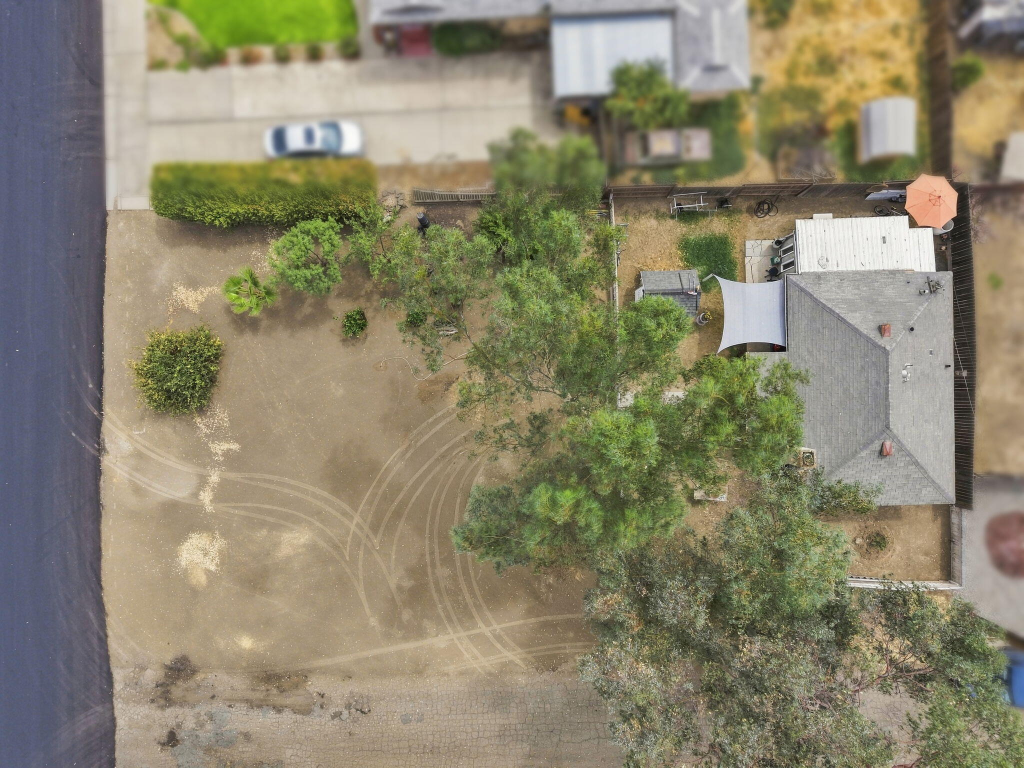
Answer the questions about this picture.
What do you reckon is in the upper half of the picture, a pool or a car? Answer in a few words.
car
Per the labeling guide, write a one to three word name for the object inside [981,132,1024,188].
shed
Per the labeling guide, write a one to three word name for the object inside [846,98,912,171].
shed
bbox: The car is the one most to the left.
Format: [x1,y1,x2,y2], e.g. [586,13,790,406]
[260,111,360,159]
